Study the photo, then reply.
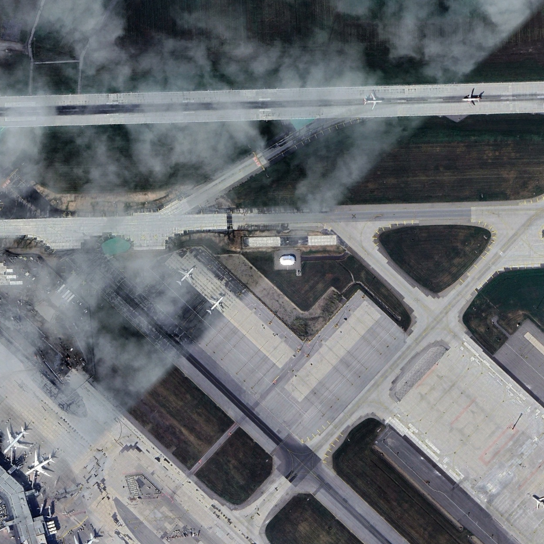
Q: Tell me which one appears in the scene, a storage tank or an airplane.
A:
airplane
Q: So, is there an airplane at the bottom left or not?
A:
Yes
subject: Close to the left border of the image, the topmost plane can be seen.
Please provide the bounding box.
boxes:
[4,424,30,454]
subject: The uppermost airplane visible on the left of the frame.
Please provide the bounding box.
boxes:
[176,267,195,285]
